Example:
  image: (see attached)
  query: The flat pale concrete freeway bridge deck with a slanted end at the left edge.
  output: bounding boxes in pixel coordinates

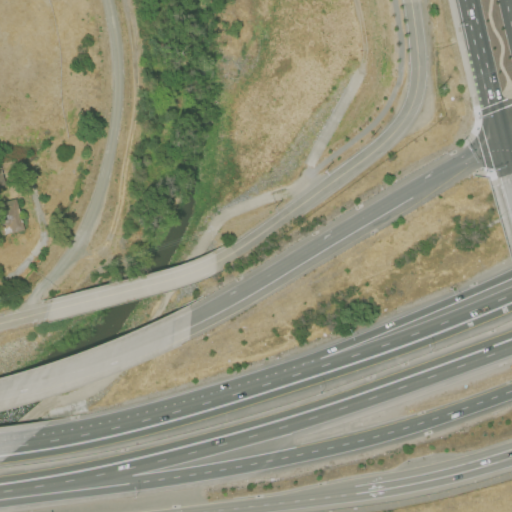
[0,419,47,464]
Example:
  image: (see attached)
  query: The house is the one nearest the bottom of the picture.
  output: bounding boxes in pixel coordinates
[4,200,24,237]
